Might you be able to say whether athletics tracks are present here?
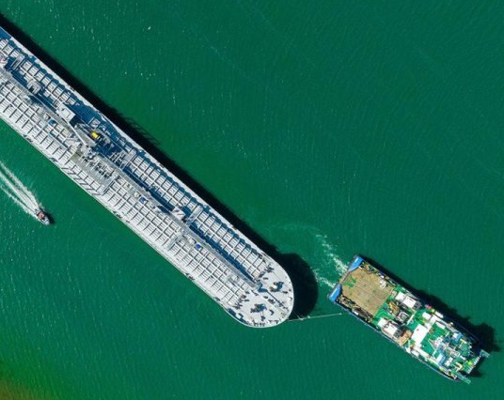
No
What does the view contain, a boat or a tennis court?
boat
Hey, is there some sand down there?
No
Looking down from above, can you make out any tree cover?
No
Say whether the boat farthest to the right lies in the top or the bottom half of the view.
bottom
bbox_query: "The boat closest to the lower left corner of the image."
[35,208,50,224]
